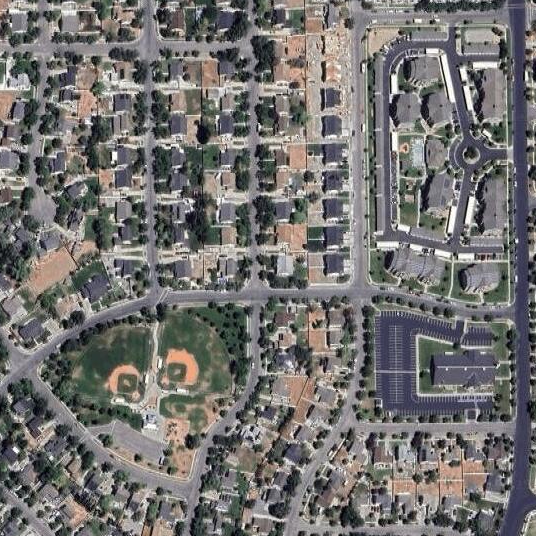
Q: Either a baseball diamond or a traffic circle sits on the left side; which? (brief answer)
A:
baseball diamond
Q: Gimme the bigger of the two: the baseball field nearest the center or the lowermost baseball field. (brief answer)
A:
the baseball field nearest the center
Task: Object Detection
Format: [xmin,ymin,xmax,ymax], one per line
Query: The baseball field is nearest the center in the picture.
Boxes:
[160,317,229,390]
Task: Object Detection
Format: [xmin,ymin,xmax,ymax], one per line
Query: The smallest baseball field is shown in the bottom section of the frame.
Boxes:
[161,393,204,420]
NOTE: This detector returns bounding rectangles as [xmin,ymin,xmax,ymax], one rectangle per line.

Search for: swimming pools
[412,140,425,164]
